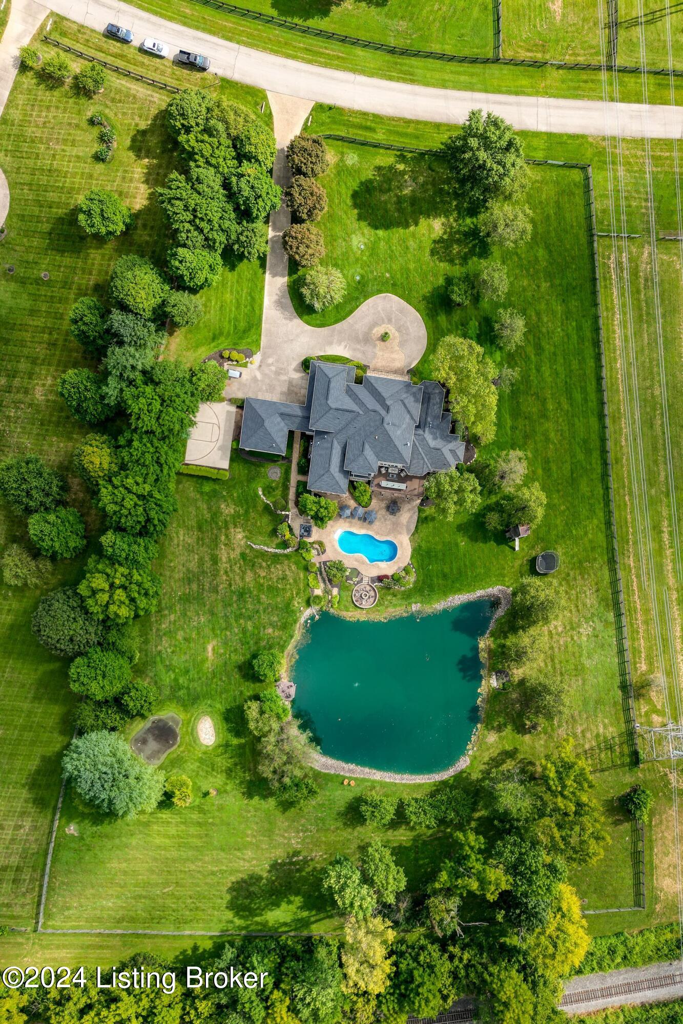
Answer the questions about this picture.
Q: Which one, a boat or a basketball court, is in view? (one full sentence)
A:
It is a basketball court that can be seen here.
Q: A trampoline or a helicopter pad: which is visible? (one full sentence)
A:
There is a trampoline in the scene.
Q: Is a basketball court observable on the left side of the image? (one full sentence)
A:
Yes, looking on the left side of the image, one can make out a basketball court.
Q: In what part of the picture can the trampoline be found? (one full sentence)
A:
The trampoline is located in the right region of the scene.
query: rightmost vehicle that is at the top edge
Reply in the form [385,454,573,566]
[176,50,210,70]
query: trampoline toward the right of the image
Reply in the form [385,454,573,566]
[535,551,559,575]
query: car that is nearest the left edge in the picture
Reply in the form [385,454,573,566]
[105,23,134,43]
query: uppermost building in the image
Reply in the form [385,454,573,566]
[239,360,465,500]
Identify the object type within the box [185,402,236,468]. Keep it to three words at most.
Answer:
basketball court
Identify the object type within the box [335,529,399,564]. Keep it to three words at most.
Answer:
swimming pool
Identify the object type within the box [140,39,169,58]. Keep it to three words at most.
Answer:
car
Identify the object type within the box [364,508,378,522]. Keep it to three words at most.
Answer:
umbrella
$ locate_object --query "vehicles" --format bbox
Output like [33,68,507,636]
[176,50,210,70]
[140,39,169,58]
[105,23,134,43]
[228,369,243,378]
